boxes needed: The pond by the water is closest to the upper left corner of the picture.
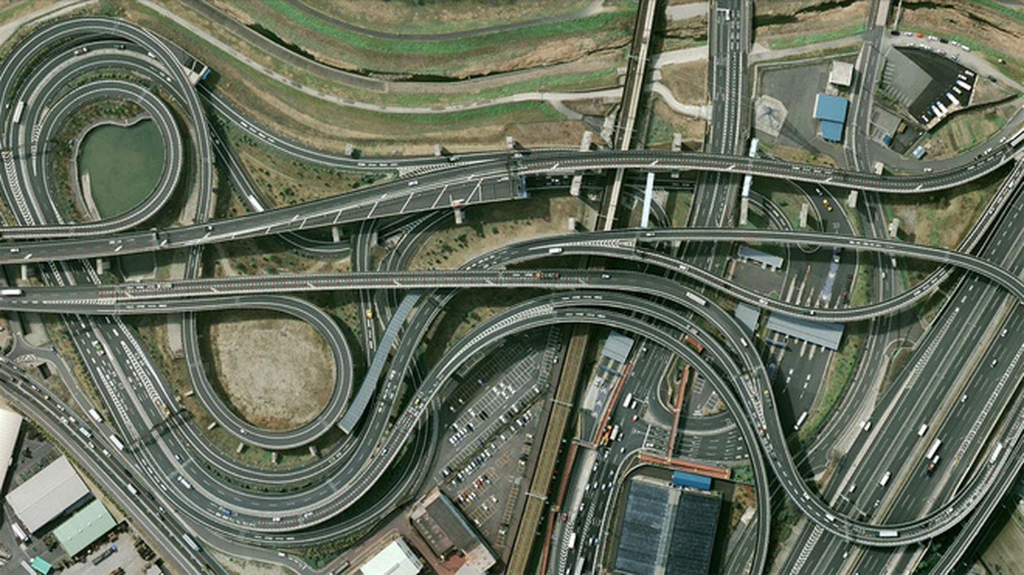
[78,119,170,221]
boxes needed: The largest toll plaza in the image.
[762,242,857,440]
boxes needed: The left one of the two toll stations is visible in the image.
[585,331,635,425]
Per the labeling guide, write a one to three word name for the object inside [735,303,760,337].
building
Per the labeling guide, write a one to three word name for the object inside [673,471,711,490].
building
